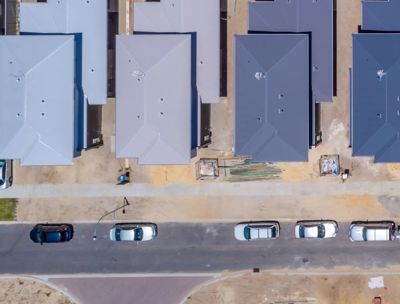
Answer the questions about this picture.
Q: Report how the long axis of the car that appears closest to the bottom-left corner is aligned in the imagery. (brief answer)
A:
from left to right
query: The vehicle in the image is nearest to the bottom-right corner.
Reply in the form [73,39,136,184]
[348,221,395,243]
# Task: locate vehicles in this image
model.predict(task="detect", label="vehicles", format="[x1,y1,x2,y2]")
[294,219,339,240]
[111,222,158,244]
[348,221,395,243]
[234,221,282,244]
[0,159,15,190]
[30,223,75,245]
